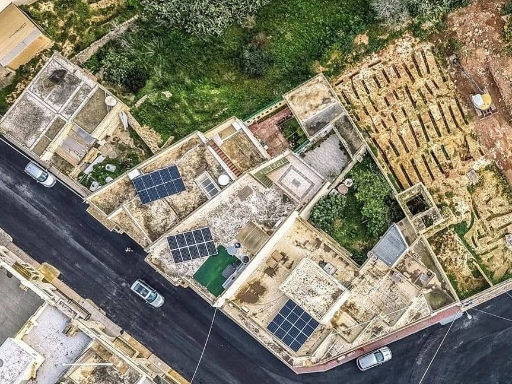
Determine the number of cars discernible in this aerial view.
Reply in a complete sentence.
Looking from above, you can make out 3 cars.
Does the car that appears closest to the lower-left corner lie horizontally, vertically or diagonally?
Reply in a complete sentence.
I'd say the car that appears closest to the lower-left corner is aligned diagonally in the picture.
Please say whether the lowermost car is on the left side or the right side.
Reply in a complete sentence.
It is on the right.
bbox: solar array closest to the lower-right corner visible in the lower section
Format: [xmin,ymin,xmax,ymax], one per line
[267,299,319,352]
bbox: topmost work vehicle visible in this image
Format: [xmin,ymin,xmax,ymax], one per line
[447,53,498,125]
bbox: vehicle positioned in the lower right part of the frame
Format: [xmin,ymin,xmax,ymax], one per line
[355,347,392,371]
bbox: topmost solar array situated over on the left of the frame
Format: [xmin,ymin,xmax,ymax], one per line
[132,165,186,205]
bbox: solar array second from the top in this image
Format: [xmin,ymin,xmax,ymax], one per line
[168,226,217,263]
